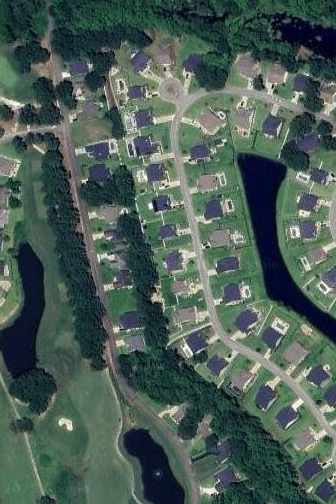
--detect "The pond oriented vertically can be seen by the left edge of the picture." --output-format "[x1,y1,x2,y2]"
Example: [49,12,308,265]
[0,243,46,379]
